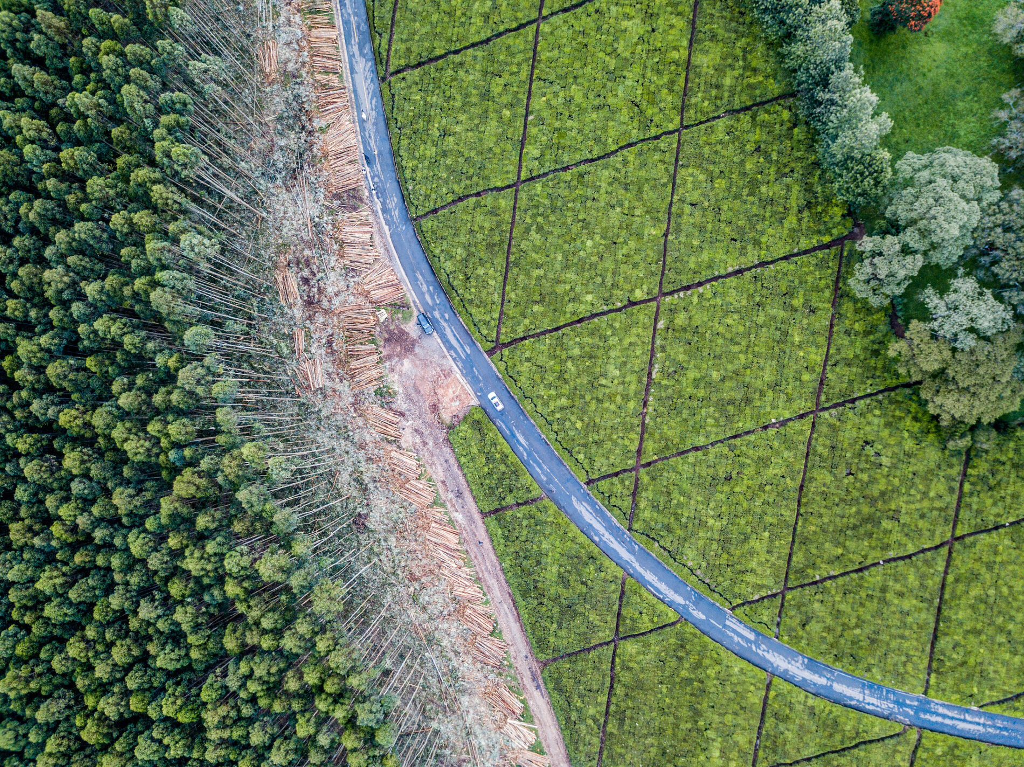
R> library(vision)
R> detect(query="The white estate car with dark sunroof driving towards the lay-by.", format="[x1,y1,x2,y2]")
[488,392,504,411]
